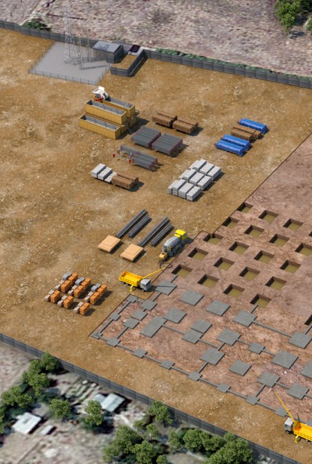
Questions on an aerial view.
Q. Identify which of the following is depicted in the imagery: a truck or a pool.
truck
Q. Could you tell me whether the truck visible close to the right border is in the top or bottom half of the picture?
bottom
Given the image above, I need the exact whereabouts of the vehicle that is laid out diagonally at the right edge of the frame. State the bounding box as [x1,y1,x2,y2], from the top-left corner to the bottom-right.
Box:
[275,390,312,441]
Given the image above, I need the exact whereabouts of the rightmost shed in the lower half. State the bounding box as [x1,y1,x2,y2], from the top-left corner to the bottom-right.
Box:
[101,393,126,420]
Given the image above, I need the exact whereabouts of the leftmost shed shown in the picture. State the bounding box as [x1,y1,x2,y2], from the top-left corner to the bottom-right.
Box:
[11,411,42,442]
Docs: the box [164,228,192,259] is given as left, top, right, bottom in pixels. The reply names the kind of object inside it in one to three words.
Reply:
truck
